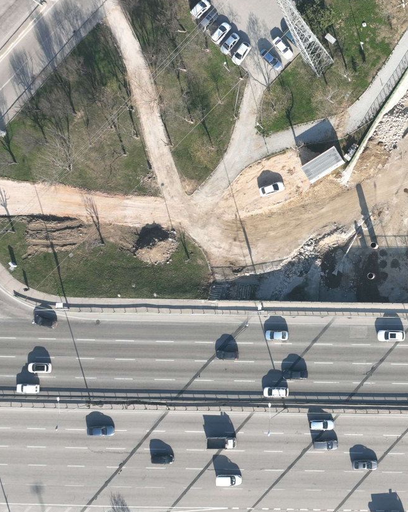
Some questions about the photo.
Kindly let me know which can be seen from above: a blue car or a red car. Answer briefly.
blue car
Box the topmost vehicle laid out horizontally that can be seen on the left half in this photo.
[33,310,60,326]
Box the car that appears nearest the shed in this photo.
[258,180,284,196]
